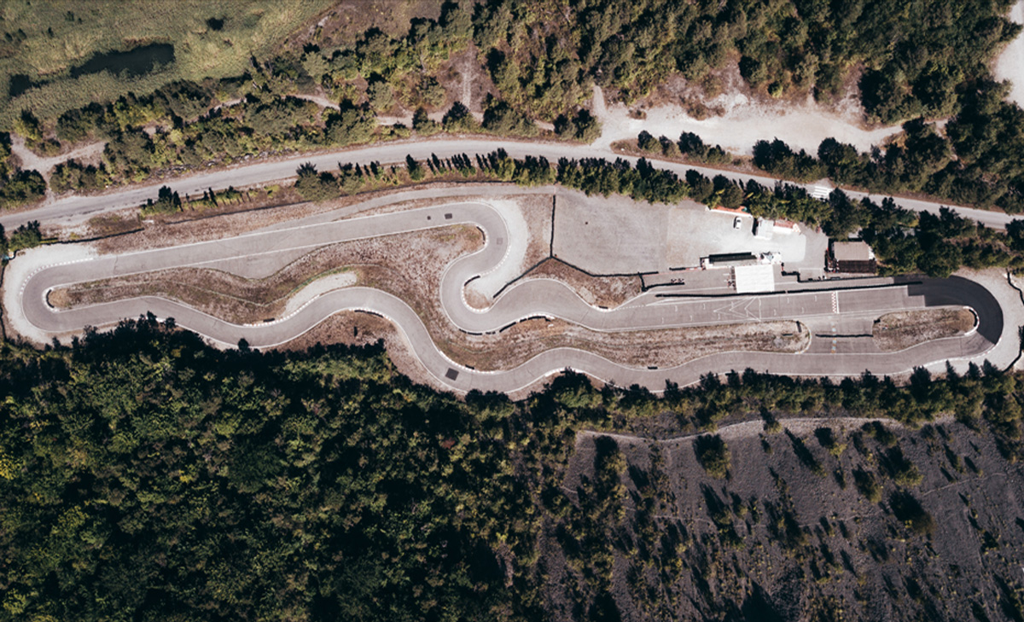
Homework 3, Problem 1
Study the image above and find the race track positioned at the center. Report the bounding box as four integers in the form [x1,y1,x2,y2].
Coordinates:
[21,202,1003,394]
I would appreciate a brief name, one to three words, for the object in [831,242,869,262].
building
